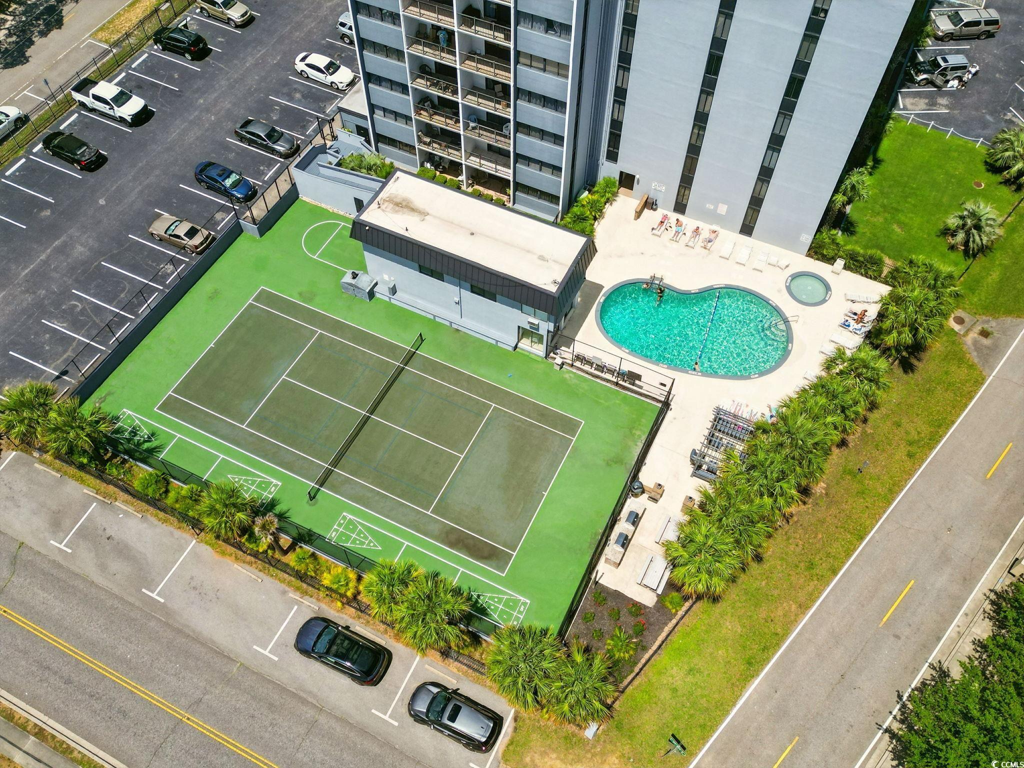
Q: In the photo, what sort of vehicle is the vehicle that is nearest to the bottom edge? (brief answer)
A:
automobile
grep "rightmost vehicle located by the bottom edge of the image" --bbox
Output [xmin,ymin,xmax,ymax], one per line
[408,681,506,756]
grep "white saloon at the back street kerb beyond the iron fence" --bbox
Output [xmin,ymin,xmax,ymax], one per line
[0,105,26,136]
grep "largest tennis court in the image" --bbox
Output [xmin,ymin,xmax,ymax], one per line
[75,196,661,663]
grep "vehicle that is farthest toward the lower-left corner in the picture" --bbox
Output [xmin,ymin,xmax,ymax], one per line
[293,616,388,687]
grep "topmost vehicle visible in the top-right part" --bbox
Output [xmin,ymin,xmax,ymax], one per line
[932,8,1002,42]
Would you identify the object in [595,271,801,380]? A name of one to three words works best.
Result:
swimming pool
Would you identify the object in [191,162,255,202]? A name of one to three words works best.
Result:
car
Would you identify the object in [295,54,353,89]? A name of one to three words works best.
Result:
car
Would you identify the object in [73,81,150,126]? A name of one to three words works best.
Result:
truck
